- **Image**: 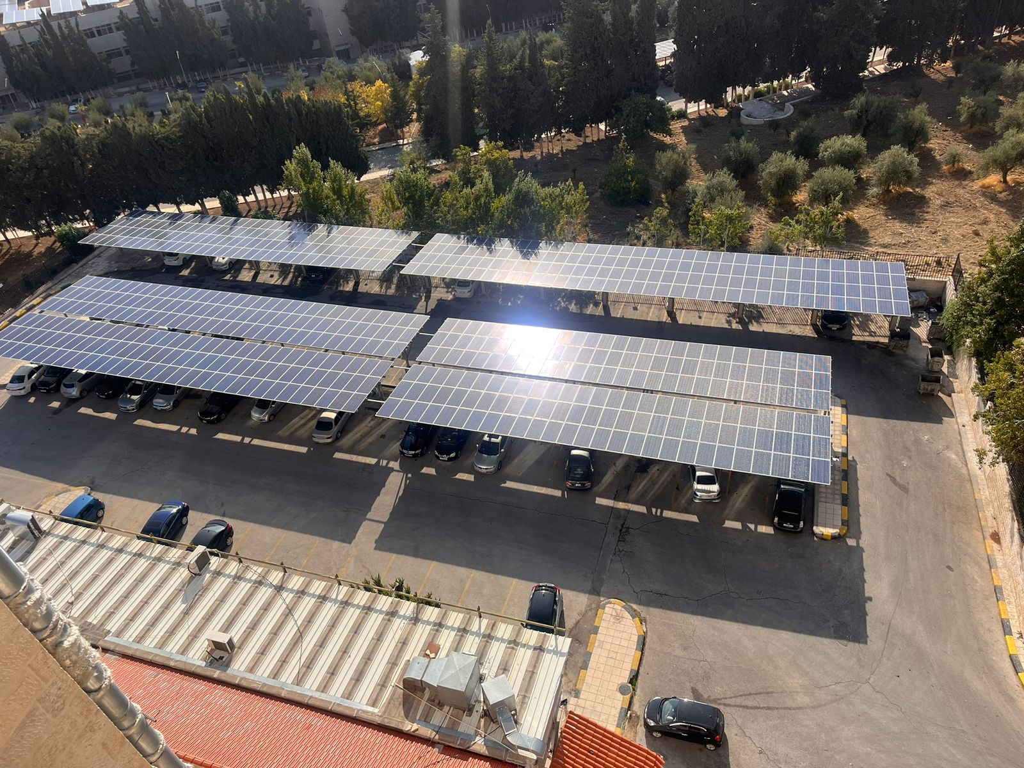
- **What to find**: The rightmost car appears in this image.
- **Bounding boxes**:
[821,309,848,327]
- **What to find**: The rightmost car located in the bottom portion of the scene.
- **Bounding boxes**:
[772,478,812,528]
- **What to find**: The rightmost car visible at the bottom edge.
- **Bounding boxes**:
[643,686,729,747]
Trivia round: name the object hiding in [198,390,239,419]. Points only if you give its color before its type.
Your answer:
black car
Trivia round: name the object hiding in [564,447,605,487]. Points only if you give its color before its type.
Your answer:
black car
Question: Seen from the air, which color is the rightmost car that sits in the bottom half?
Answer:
black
